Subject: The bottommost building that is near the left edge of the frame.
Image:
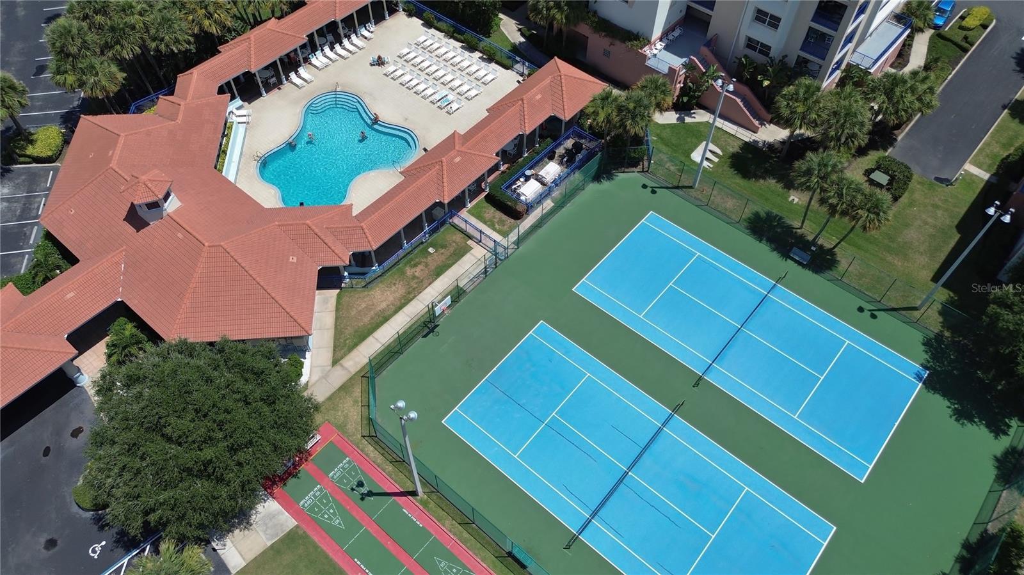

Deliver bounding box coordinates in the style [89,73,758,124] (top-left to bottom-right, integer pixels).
[0,93,355,450]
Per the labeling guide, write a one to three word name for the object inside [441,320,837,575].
tennis court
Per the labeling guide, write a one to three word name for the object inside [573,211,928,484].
tennis court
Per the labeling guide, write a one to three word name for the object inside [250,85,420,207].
swimming pool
